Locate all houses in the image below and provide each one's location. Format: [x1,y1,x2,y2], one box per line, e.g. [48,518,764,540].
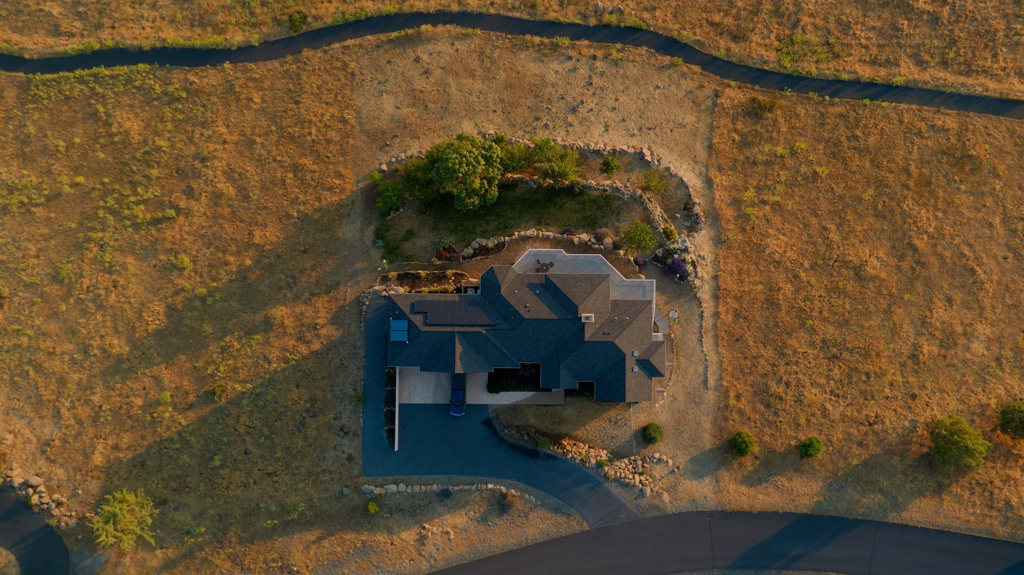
[387,264,666,404]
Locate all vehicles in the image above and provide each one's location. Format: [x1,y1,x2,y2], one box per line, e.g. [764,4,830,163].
[448,374,467,418]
